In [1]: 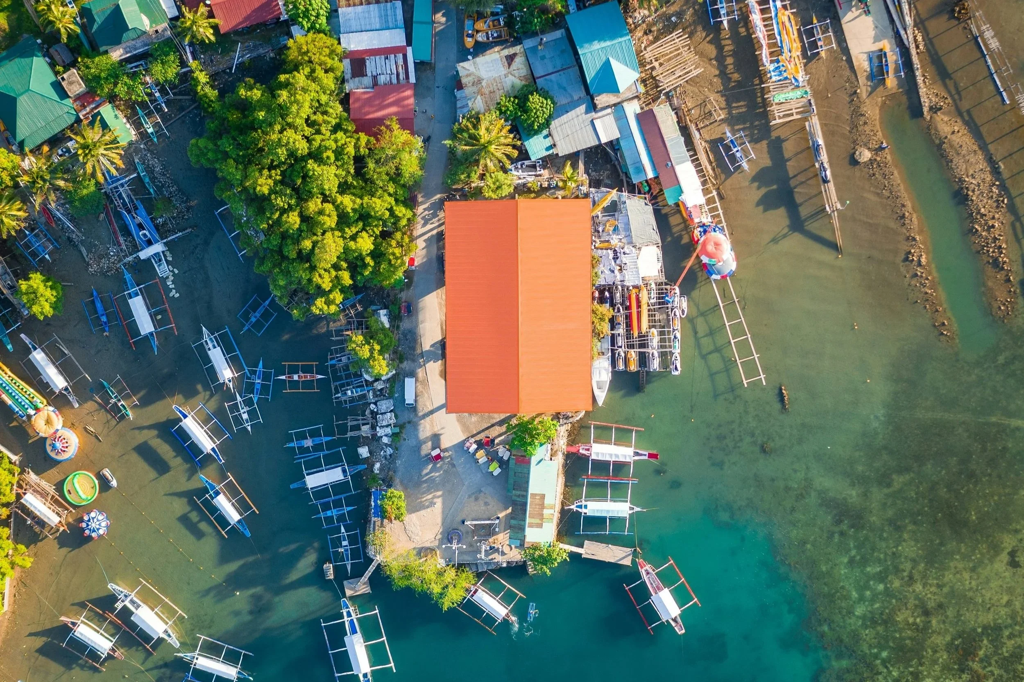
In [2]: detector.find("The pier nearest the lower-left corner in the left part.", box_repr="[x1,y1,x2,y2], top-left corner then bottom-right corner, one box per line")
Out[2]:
[343,558,380,598]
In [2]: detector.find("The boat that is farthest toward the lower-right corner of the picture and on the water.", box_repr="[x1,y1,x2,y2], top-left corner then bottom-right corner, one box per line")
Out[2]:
[623,557,701,635]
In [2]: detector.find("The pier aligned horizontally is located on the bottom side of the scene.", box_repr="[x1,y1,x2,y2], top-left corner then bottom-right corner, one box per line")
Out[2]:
[559,539,634,567]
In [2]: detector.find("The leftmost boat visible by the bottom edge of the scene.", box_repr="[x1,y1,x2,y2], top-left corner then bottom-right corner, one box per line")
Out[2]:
[60,602,128,671]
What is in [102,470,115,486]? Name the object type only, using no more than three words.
boat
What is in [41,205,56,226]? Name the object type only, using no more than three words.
boat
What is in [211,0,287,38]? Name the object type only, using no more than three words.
house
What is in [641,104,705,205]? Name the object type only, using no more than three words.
shed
